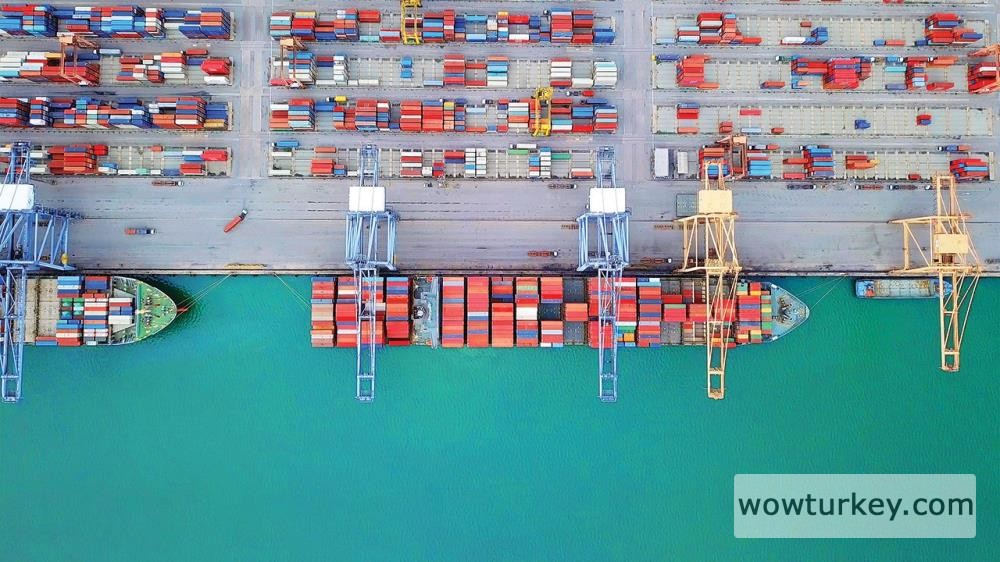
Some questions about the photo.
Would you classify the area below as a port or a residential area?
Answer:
port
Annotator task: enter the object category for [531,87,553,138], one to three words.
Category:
container crane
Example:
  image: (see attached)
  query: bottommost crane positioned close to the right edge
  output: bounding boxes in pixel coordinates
[880,176,985,374]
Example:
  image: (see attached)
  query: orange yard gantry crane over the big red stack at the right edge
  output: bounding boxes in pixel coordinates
[966,40,1000,93]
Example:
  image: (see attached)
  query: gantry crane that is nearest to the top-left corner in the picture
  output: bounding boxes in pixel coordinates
[62,35,100,87]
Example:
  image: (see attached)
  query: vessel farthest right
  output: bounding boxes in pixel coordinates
[855,279,953,298]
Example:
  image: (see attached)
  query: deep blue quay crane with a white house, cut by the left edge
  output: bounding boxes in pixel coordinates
[0,141,86,401]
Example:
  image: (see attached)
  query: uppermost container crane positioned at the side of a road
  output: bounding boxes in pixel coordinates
[402,0,426,45]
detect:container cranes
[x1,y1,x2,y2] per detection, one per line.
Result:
[717,134,746,182]
[402,0,426,45]
[531,87,553,138]
[280,37,308,89]
[966,40,1000,93]
[0,141,86,401]
[880,176,985,374]
[667,161,745,401]
[62,35,100,87]
[341,143,403,402]
[570,147,636,403]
